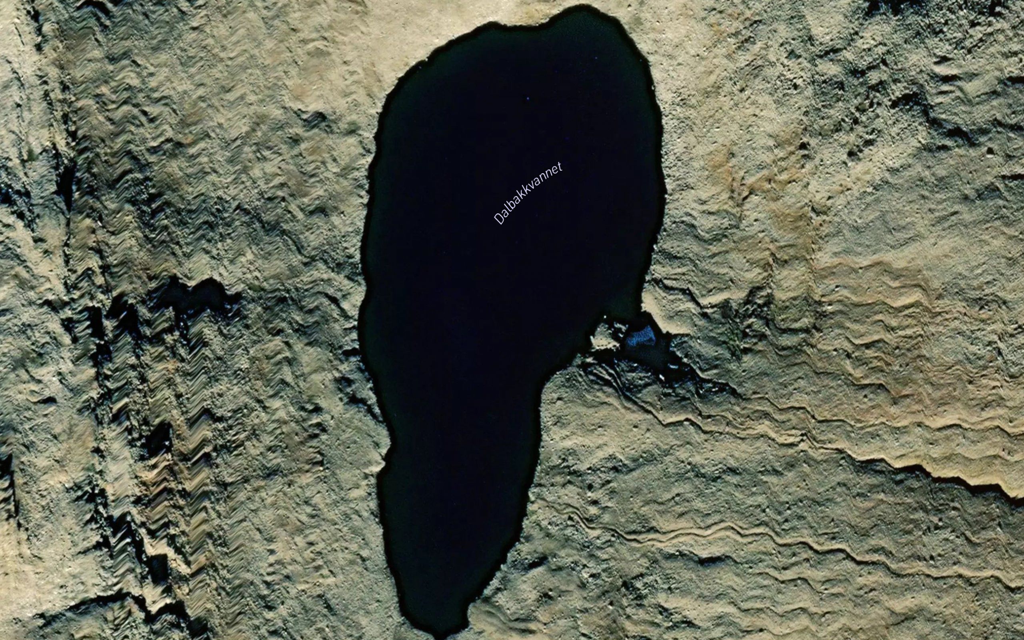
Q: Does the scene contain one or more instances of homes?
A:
No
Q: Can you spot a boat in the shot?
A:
No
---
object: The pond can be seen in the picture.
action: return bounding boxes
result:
[587,307,736,395]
